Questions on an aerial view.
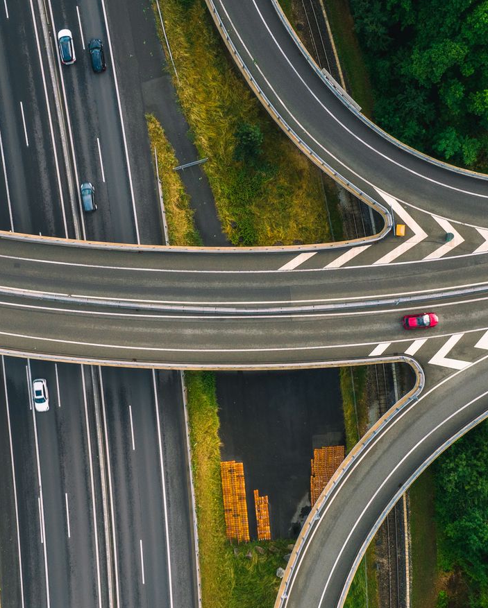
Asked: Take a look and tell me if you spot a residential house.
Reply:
No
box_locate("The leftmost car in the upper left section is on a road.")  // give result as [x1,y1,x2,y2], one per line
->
[57,31,76,64]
